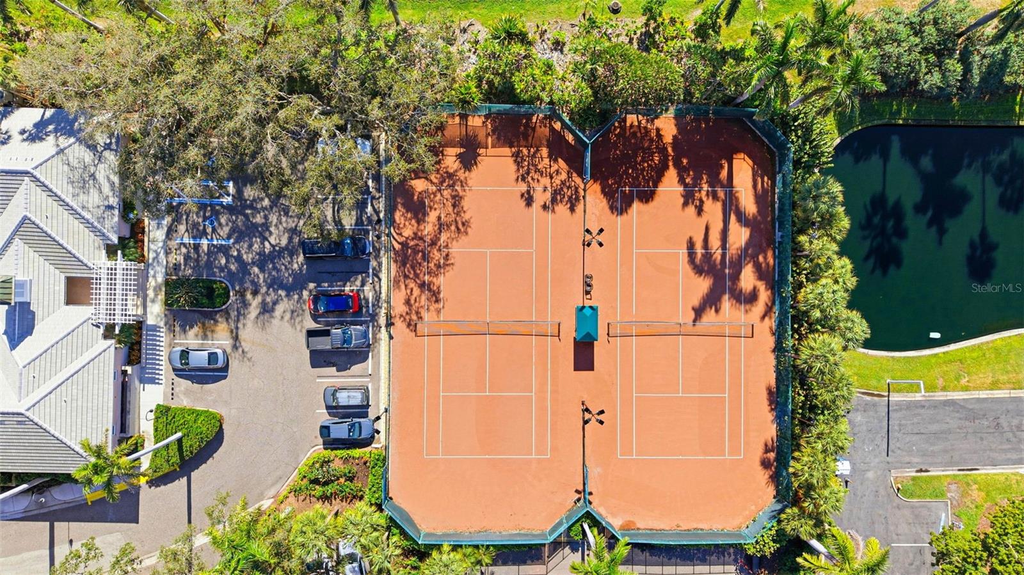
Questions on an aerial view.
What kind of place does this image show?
sports ground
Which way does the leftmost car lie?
horizontally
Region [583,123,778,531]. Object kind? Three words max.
tennis court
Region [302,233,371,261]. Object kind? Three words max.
truck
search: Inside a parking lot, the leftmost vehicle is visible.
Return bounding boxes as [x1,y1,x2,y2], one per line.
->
[172,346,229,372]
